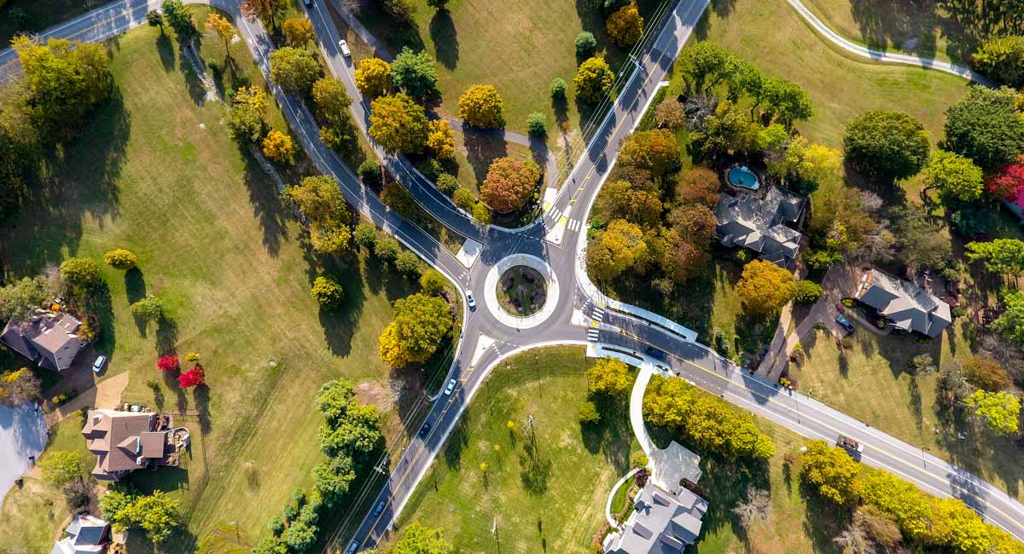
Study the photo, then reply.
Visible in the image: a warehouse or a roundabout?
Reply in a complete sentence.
Looking from above, you can make out a roundabout.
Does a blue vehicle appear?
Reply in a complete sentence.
Yes, a blue vehicle is visible in the scene.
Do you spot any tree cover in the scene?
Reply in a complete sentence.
Yes, there's tree cover in this view.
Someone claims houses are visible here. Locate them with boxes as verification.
[714,182,809,271]
[851,269,959,339]
[985,171,1024,228]
[0,307,92,376]
[600,479,718,554]
[37,506,118,554]
[73,406,171,481]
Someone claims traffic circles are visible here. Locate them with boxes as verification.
[456,206,621,366]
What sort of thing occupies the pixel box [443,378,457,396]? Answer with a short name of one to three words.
car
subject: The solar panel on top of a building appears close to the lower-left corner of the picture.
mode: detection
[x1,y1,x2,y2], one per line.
[71,528,103,544]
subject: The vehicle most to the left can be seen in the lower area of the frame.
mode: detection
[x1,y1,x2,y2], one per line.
[92,355,108,374]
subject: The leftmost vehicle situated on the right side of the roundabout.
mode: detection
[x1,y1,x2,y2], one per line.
[646,347,665,360]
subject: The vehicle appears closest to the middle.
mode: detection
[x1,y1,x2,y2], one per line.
[464,289,476,307]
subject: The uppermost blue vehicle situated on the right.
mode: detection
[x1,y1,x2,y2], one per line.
[835,316,855,333]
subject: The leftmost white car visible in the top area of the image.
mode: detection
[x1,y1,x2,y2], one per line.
[337,38,351,58]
